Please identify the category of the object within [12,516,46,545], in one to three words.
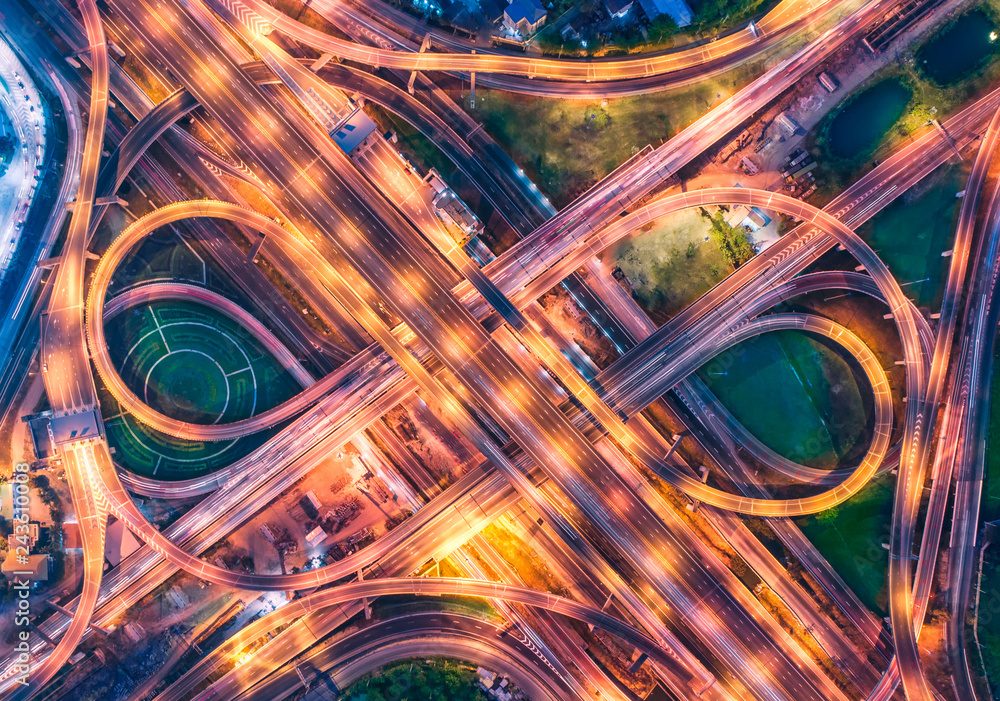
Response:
building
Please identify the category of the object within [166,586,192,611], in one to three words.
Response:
shed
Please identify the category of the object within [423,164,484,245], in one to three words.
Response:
building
